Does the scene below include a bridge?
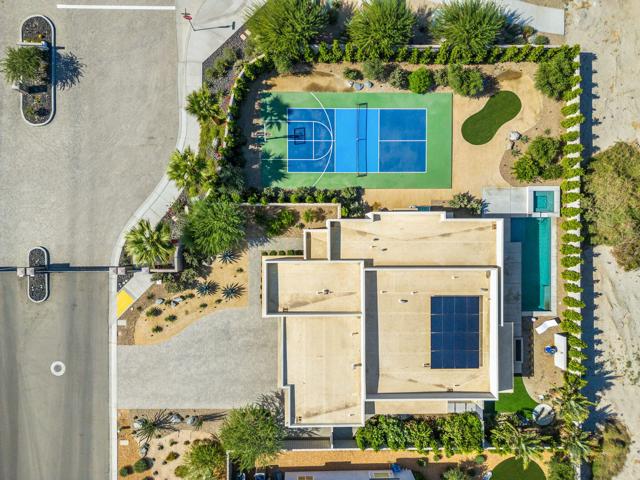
No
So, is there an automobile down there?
No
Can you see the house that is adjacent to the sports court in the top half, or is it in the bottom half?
bottom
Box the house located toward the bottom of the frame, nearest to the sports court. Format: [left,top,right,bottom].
[262,212,514,427]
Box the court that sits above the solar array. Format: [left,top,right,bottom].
[258,92,452,188]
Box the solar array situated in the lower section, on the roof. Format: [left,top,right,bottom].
[430,296,482,368]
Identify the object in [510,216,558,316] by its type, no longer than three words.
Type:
swimming pool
